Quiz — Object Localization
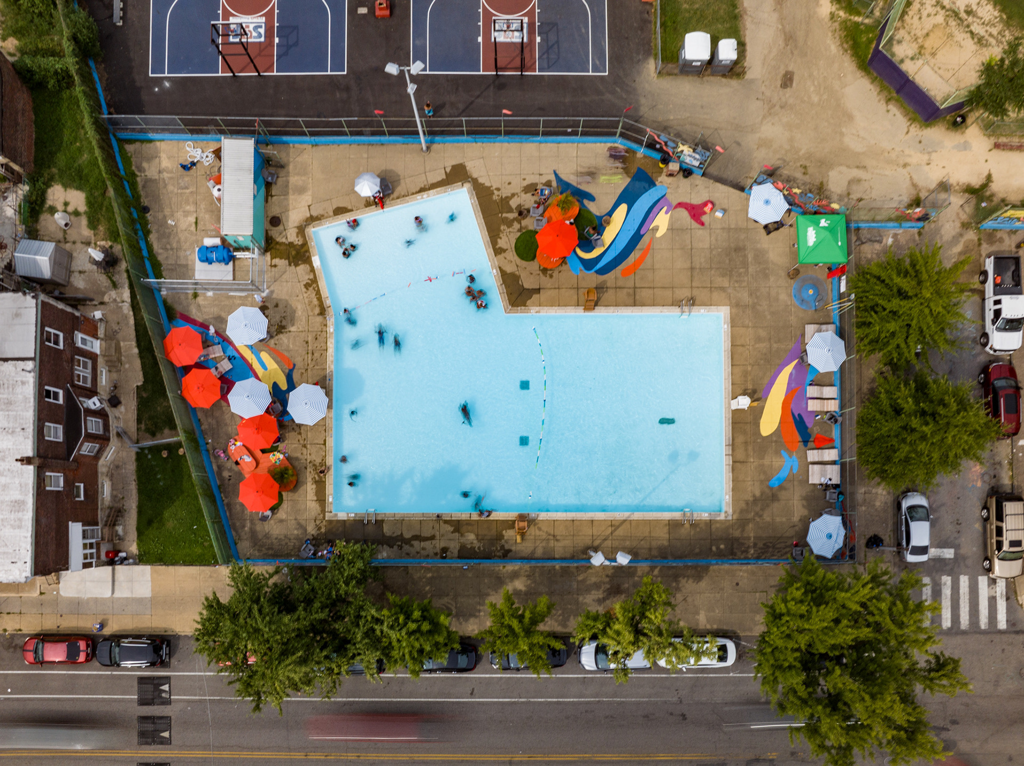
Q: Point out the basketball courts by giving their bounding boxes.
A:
[411,0,608,74]
[149,0,348,75]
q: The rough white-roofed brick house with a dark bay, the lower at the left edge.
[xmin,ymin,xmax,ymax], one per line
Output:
[0,360,118,587]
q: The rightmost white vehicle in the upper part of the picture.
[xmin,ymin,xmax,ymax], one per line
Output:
[980,258,1024,354]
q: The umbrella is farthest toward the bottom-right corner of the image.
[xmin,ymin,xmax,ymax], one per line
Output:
[805,516,840,554]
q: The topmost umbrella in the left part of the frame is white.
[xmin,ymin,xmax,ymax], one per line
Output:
[356,174,381,200]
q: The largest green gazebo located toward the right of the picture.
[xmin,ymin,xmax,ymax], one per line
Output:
[785,214,847,273]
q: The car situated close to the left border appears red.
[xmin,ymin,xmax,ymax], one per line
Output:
[26,633,100,668]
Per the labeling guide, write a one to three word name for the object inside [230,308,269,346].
umbrella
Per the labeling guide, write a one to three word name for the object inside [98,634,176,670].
car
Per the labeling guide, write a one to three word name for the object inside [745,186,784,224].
umbrella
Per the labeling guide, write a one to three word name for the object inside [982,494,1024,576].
car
